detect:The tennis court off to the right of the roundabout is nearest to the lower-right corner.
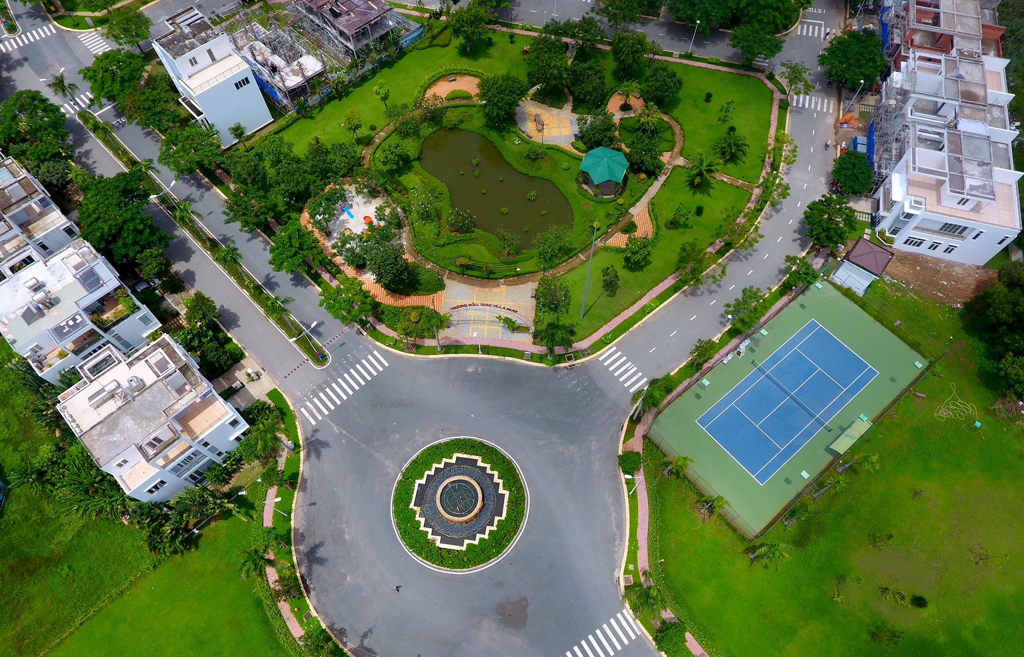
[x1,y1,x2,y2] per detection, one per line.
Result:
[653,280,929,531]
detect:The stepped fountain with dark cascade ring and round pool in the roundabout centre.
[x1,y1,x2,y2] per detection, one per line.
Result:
[408,452,511,556]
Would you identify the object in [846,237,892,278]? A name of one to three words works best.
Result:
shed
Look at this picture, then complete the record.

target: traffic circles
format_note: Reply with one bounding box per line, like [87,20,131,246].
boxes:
[390,437,531,580]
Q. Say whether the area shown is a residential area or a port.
residential area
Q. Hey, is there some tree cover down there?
Yes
